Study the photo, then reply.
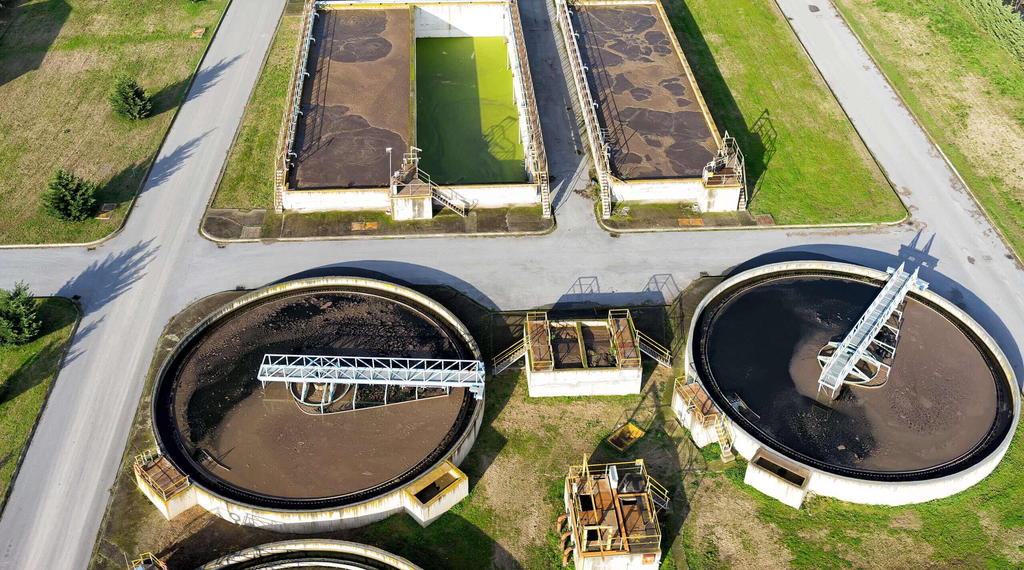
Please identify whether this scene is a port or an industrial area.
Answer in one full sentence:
The picture captures an industrial area.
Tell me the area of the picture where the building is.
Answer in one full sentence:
You can find the building in the bottom area of the picture.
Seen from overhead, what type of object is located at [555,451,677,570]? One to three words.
building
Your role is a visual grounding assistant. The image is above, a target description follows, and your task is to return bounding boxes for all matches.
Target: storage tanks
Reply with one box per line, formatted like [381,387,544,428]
[194,539,426,570]
[148,276,486,531]
[685,260,1021,503]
